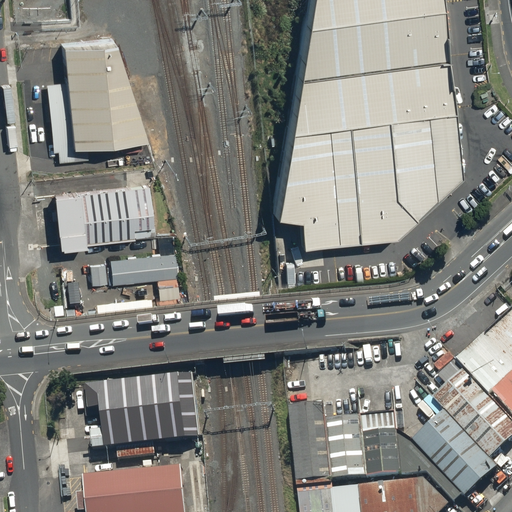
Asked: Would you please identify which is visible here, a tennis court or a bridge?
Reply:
bridge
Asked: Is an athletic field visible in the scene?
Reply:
No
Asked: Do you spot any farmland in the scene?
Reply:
No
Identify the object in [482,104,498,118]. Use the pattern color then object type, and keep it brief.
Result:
white vehicle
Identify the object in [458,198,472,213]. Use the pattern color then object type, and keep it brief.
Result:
white vehicle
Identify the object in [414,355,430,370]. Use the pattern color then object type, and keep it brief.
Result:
gray vehicle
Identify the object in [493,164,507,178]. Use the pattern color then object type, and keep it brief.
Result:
gray car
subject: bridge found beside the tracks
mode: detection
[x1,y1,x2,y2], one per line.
[184,288,292,362]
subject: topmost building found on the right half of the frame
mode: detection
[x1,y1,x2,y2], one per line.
[273,0,464,252]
